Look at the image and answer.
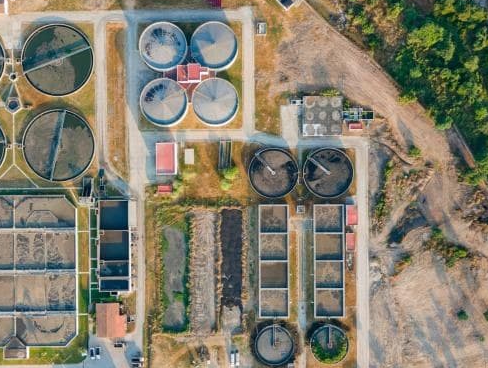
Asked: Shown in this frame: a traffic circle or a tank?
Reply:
tank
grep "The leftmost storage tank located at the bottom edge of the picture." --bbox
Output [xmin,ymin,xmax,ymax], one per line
[253,324,295,365]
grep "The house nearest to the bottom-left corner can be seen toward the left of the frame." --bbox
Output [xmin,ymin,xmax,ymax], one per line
[96,303,127,339]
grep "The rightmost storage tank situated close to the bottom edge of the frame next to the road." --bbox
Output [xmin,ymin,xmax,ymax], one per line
[308,324,348,364]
